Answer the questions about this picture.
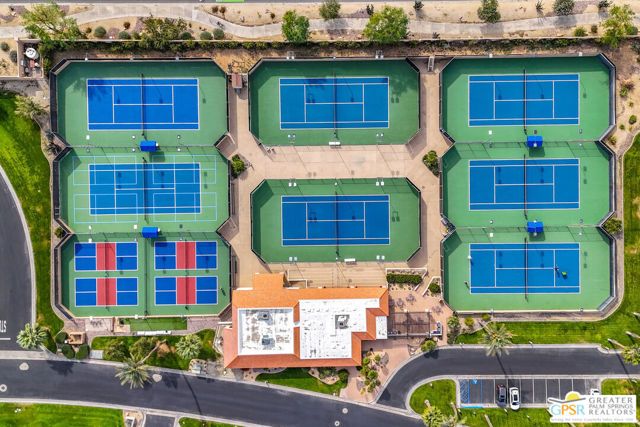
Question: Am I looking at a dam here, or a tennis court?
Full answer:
There is a tennis court in the scene.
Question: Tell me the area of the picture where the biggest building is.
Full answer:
Look in the bottom portion of the view to spot the biggest building.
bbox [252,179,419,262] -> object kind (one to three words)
tennis court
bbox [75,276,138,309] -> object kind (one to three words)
sports court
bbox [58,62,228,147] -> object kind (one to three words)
tennis court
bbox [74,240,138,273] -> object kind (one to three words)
sports court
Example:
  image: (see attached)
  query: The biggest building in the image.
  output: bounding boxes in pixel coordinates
[224,273,389,369]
